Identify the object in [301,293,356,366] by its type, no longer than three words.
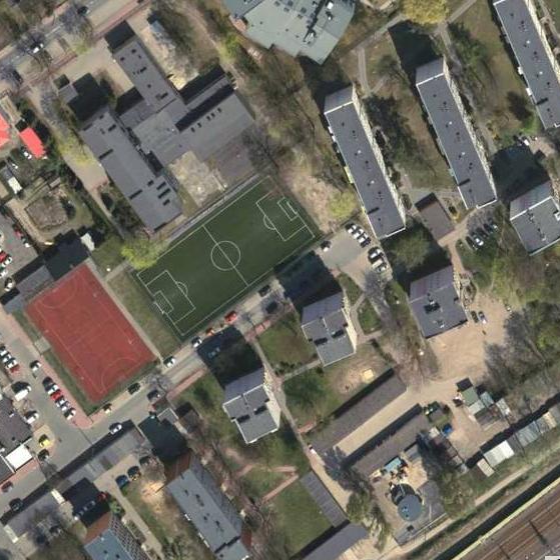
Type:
building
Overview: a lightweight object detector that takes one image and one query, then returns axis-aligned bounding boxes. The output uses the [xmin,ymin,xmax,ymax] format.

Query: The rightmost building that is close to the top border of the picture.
[492,0,560,128]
